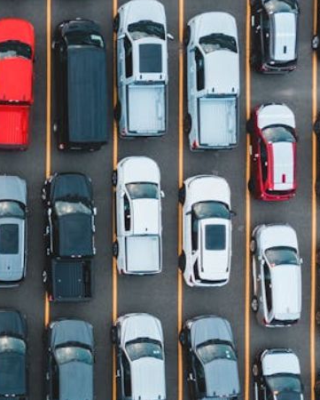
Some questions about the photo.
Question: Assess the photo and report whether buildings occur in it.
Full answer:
No, there is no building in the image.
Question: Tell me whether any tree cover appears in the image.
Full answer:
No, there's no tree cover in this view.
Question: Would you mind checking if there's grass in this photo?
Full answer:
No, the picture contains no grass.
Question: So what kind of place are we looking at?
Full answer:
The area seen from above is a parking lot.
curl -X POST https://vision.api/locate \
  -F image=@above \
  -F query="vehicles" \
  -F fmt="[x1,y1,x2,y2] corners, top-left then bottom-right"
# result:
[0,17,40,149]
[112,313,169,400]
[248,224,305,327]
[0,309,33,400]
[0,176,31,287]
[114,0,172,138]
[114,157,167,275]
[249,0,305,74]
[247,103,302,200]
[43,173,100,301]
[181,175,236,286]
[184,12,245,150]
[252,349,307,400]
[181,315,243,400]
[54,17,111,151]
[44,318,101,400]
